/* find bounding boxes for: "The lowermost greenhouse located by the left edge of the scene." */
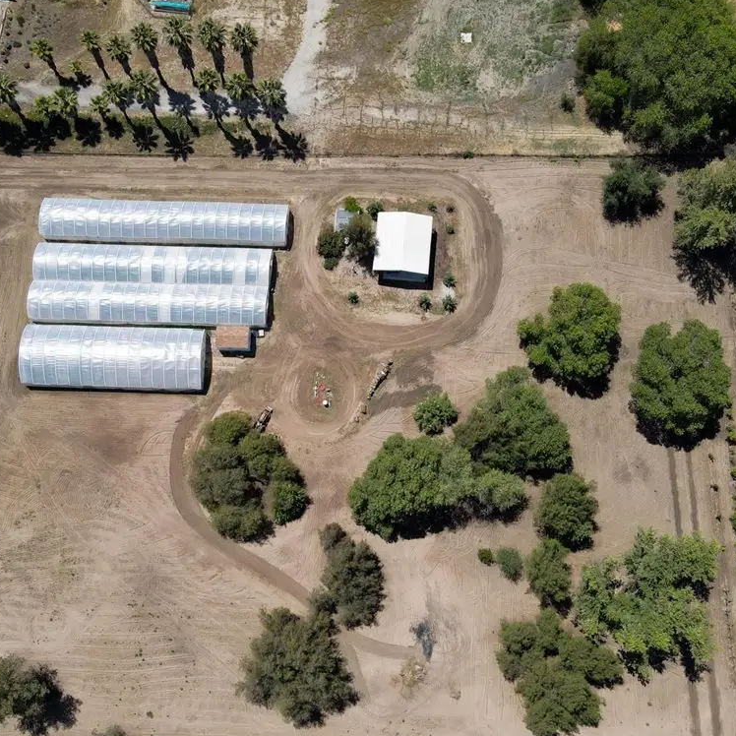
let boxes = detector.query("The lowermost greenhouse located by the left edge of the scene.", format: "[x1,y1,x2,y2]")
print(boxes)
[16,328,208,392]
